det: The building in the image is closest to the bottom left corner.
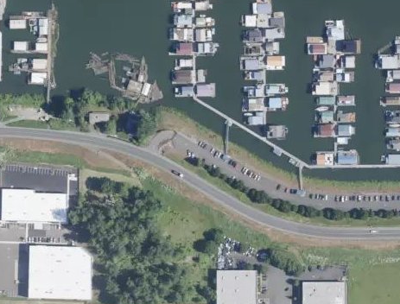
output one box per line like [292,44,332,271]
[27,246,91,300]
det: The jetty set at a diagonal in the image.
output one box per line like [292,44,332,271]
[193,95,309,167]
